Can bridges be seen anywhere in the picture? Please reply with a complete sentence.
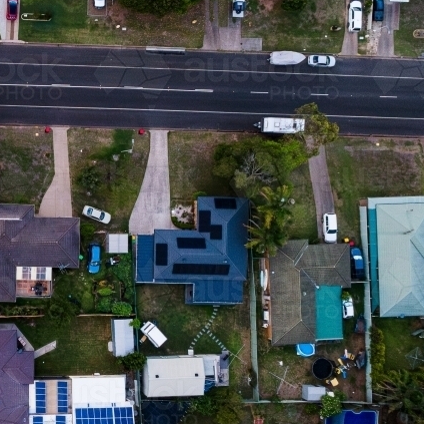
No, no bridge is visible in the view.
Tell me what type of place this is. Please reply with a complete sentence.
The area seen from above is a residential area.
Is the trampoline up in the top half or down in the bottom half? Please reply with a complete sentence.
The bottom half of the photo is where the trampoline is.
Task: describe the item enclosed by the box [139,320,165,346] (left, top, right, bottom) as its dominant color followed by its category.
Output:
white camper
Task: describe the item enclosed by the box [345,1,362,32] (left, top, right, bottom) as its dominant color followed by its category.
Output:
white car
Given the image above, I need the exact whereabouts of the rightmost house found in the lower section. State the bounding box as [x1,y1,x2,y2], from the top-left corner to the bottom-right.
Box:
[361,197,424,320]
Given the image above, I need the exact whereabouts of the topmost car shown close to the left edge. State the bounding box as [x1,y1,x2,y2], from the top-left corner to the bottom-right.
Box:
[6,0,20,21]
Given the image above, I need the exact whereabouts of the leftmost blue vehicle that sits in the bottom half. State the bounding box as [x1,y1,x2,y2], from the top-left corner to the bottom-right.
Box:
[87,242,102,273]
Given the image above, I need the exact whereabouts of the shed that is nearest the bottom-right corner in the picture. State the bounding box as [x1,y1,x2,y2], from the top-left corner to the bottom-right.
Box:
[297,383,327,401]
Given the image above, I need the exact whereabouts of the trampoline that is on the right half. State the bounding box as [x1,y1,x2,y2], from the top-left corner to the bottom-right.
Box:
[311,358,333,379]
